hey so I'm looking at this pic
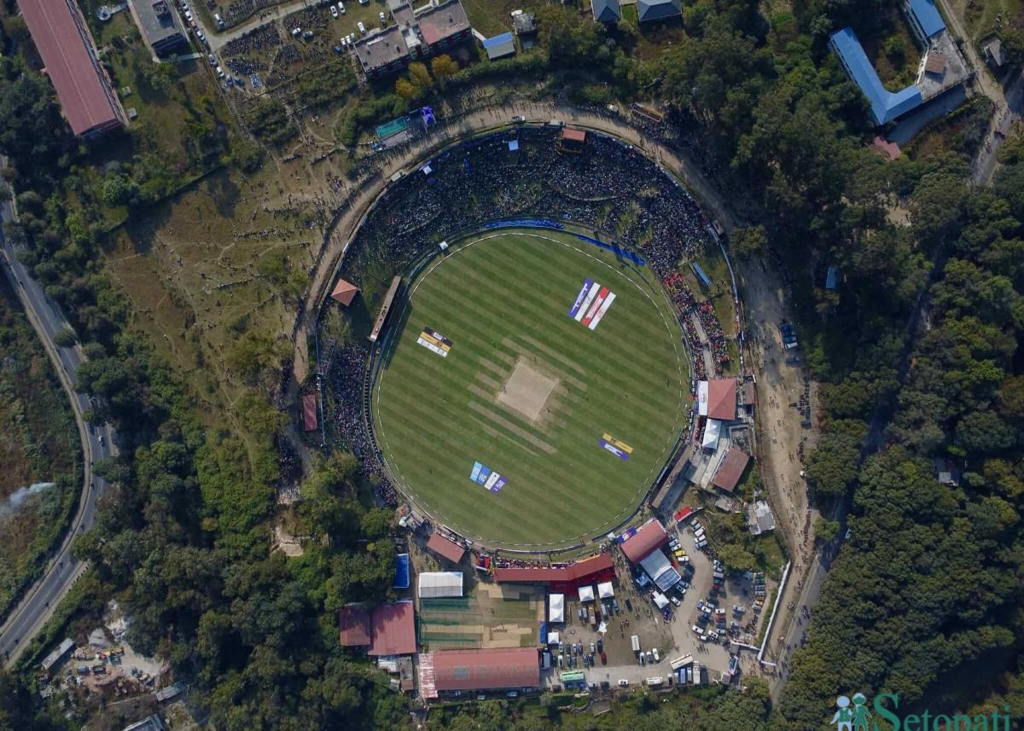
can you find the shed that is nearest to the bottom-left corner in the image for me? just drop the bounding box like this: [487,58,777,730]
[41,635,78,670]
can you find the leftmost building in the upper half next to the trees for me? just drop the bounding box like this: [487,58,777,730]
[18,0,125,140]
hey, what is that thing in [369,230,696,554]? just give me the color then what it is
green sports field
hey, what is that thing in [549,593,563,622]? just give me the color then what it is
white tent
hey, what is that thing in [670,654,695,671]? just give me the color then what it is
white vehicle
